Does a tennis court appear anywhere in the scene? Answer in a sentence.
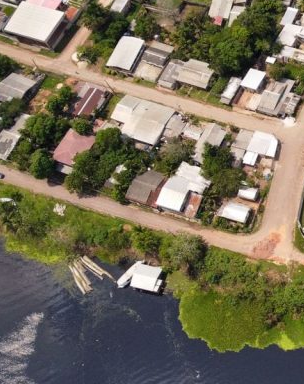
No, there's no tennis court here.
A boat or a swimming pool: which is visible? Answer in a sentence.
Of the two, only a boat appears.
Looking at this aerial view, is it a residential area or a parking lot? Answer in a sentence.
The area seen from above is a residential area.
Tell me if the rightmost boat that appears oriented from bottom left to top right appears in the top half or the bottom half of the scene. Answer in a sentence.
It is in the bottom half that the rightmost boat that appears oriented from bottom left to top right appears.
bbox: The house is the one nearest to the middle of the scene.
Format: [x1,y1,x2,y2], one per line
[126,169,169,209]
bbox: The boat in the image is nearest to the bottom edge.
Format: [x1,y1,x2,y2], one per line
[118,261,146,288]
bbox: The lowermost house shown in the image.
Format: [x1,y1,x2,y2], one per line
[129,264,165,295]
